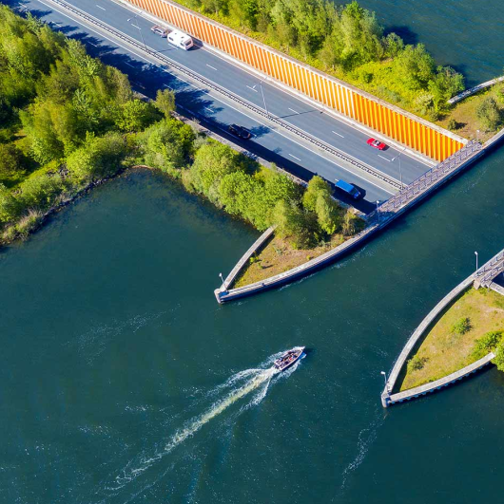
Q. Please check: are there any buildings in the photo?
No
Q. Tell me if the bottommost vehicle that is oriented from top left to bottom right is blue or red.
blue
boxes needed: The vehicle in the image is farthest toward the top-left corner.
[152,26,170,38]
